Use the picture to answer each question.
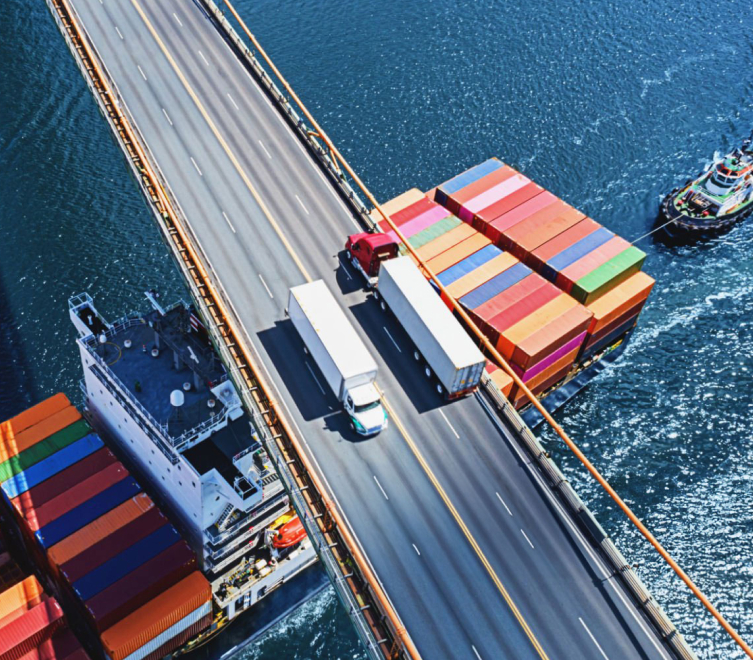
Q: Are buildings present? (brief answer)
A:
No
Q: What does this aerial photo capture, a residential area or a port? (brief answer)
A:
port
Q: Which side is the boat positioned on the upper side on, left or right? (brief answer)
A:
right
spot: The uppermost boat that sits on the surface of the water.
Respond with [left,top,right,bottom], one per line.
[652,123,753,239]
